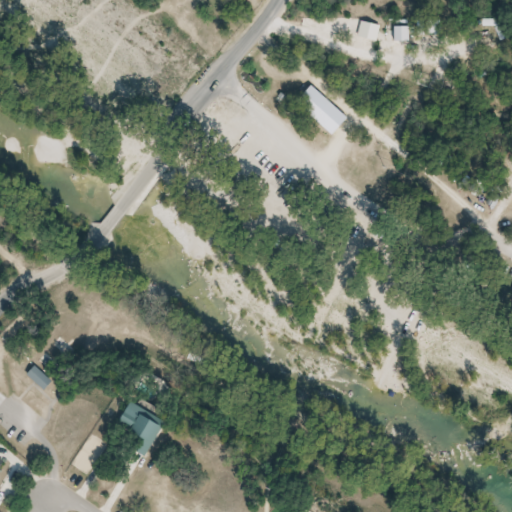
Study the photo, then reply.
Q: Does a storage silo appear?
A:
No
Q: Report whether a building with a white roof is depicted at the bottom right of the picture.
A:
No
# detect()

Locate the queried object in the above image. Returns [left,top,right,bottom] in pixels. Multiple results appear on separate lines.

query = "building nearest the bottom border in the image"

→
[122,400,163,455]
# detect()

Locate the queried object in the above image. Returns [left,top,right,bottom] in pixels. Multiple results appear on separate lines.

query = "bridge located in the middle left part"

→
[88,176,162,247]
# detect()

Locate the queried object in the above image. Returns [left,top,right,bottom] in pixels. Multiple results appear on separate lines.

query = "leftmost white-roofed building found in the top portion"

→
[304,86,347,134]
